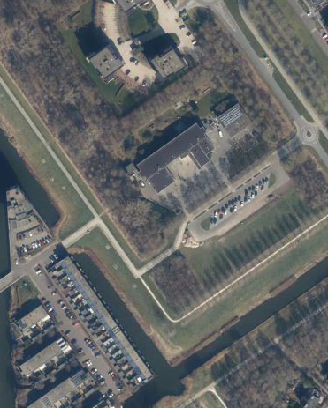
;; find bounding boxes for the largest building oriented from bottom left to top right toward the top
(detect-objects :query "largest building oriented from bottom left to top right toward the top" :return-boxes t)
[137,122,205,183]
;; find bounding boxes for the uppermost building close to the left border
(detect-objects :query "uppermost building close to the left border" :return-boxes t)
[6,185,32,219]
